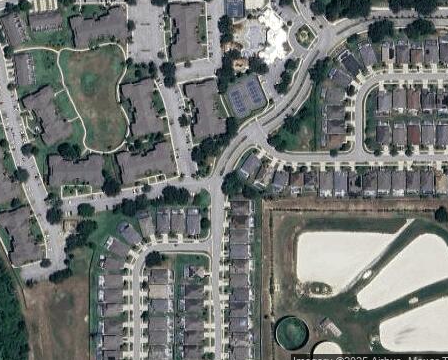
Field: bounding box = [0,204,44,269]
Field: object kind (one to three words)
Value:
building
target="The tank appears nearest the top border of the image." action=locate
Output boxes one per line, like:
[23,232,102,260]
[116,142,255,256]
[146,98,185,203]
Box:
[276,317,308,348]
